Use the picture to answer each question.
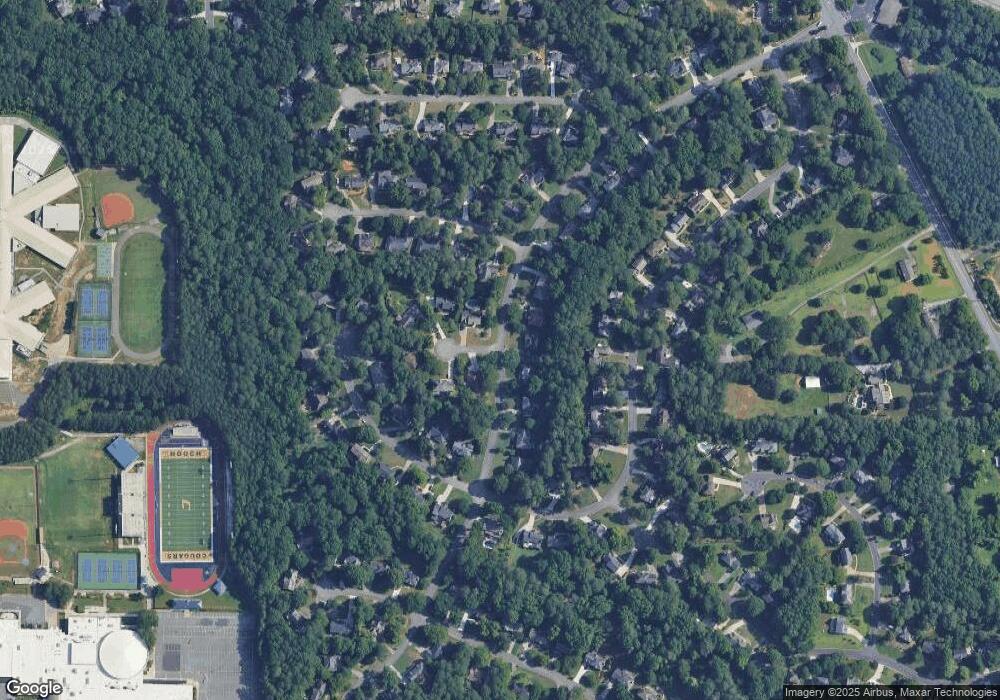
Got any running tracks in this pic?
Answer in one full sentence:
Yes, a running track is visible in the scene.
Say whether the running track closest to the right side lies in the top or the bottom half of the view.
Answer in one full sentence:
The bottom half of the photo is where the running track closest to the right side is.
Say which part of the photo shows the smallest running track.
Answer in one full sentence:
The smallest running track is in the left part of the image.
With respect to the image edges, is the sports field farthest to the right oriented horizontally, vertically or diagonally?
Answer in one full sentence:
The sports field farthest to the right has been laid out vertically relative to the frame.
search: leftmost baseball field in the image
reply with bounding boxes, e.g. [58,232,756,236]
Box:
[0,464,38,575]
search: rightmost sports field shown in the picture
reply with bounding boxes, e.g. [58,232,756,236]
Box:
[159,447,213,562]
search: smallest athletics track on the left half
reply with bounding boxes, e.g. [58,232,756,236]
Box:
[111,224,176,362]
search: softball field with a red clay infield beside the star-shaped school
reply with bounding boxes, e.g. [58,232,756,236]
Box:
[93,168,162,227]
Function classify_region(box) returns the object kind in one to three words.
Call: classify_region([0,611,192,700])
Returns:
building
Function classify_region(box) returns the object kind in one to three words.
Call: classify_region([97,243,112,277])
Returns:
sports court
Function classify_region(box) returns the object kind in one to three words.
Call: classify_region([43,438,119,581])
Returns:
sports field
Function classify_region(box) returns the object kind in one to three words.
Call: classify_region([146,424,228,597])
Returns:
running track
